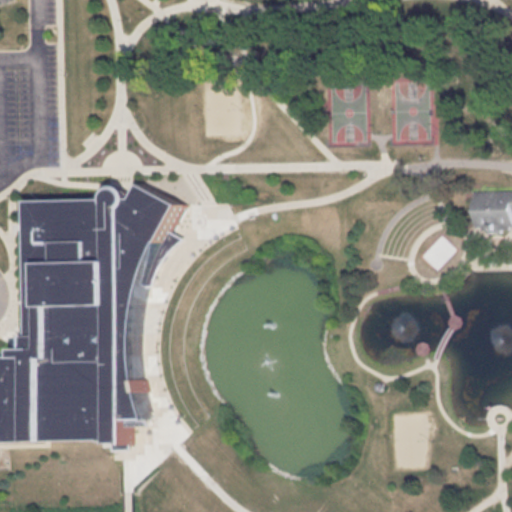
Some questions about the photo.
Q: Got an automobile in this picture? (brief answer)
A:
No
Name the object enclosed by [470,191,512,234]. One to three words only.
house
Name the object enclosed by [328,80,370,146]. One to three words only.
basketball court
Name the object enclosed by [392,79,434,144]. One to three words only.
basketball court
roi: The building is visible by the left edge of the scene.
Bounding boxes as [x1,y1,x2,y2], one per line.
[0,186,188,450]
